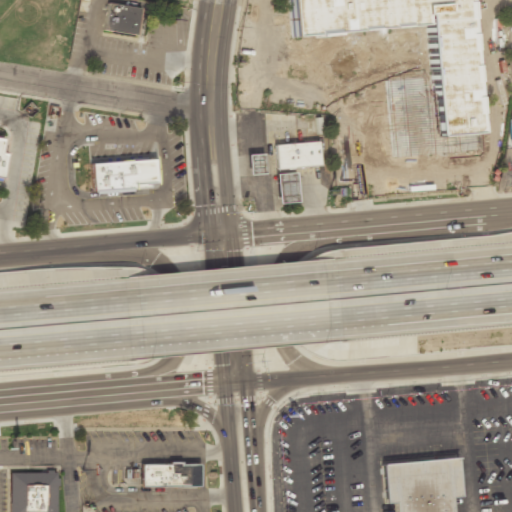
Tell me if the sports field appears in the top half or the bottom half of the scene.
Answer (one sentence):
You can find the sports field in the top half.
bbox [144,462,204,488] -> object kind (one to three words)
building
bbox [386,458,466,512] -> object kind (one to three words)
building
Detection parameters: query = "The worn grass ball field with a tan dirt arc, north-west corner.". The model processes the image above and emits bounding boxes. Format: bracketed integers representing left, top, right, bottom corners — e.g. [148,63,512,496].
[0,0,80,70]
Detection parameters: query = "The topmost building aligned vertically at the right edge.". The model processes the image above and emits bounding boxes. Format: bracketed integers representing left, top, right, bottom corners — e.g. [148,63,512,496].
[427,0,491,138]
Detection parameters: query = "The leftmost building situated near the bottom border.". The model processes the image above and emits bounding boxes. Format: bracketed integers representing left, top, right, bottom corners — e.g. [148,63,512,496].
[12,468,60,512]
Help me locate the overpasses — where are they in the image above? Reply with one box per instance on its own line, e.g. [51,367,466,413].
[150,259,303,356]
